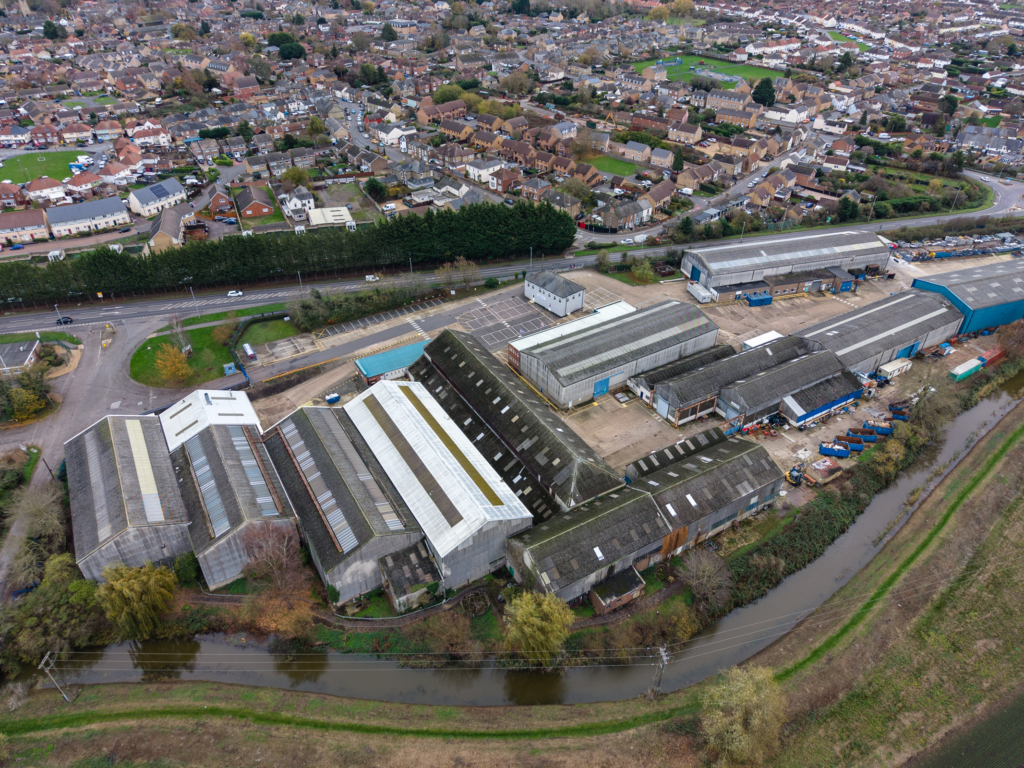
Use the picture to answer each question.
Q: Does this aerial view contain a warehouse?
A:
Yes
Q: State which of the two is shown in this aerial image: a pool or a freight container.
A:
freight container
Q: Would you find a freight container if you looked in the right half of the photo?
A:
Yes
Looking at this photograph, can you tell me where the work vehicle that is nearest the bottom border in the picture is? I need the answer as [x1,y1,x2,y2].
[787,471,809,490]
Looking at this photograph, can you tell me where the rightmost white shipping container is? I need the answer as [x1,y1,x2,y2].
[944,358,982,384]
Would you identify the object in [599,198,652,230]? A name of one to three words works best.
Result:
house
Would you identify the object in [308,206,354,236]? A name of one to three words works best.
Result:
shed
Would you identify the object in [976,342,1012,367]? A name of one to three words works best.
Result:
shipping container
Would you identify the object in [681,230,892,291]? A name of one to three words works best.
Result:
building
